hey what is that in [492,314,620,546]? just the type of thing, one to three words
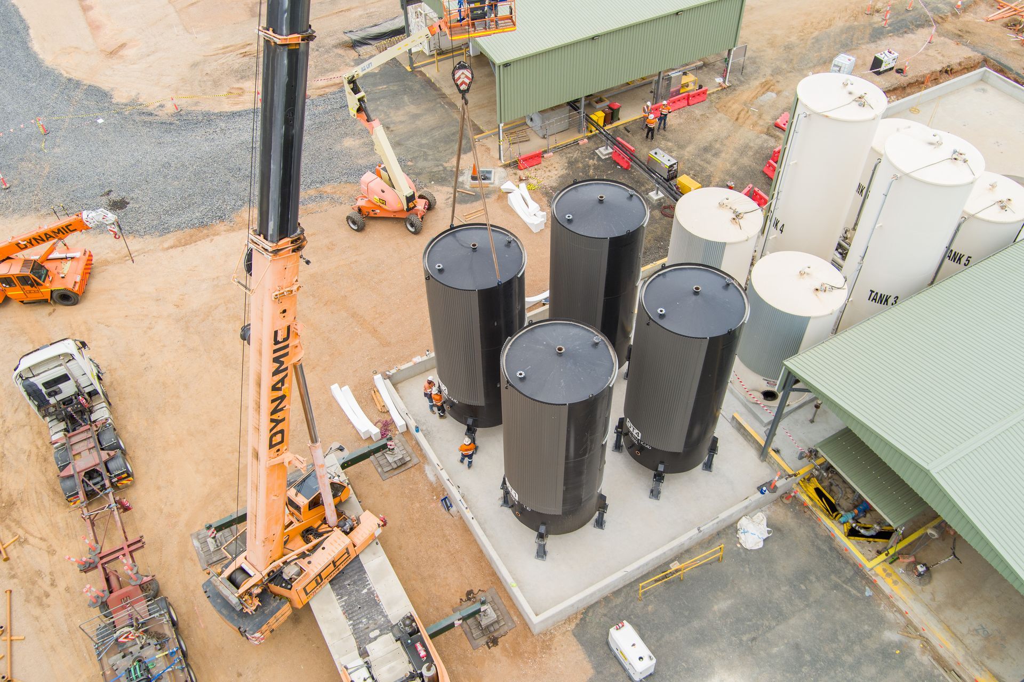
storage tank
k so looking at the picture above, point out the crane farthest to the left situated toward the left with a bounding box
[0,209,134,311]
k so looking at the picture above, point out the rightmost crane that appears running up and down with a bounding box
[202,0,497,682]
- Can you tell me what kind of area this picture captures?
industrial area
